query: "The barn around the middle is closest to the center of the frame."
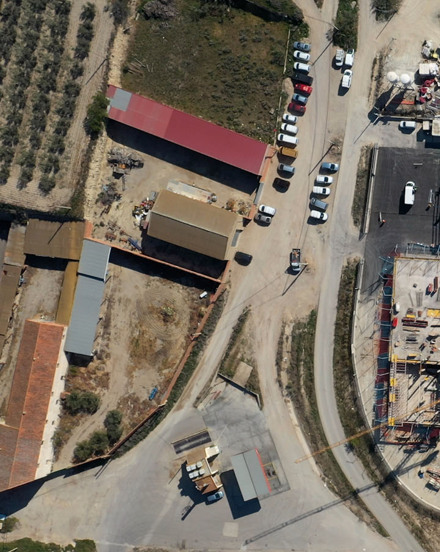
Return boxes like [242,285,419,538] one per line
[148,190,247,260]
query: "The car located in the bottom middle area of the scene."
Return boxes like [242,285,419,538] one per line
[205,489,226,502]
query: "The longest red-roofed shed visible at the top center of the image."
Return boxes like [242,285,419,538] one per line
[107,86,276,178]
